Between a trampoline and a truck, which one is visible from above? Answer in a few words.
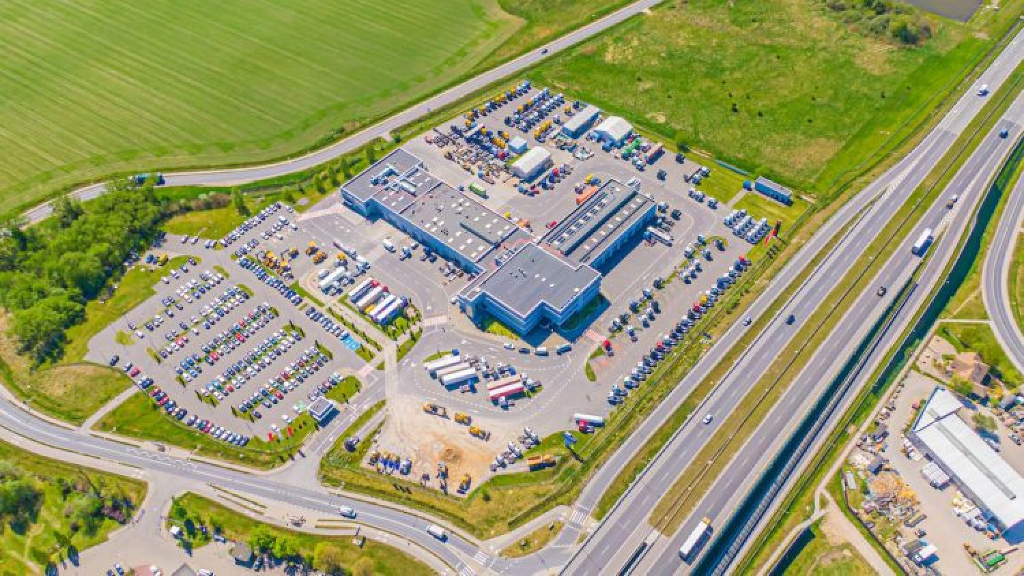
truck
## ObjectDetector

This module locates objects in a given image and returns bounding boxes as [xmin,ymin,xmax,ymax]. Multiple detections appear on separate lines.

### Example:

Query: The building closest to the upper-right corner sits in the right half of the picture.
[754,177,792,205]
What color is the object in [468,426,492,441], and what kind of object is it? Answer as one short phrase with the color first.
yellow work vehicle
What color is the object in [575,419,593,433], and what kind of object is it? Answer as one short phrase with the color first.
red vehicle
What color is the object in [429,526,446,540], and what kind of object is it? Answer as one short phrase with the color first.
white vehicle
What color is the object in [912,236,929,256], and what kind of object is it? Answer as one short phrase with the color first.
white vehicle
